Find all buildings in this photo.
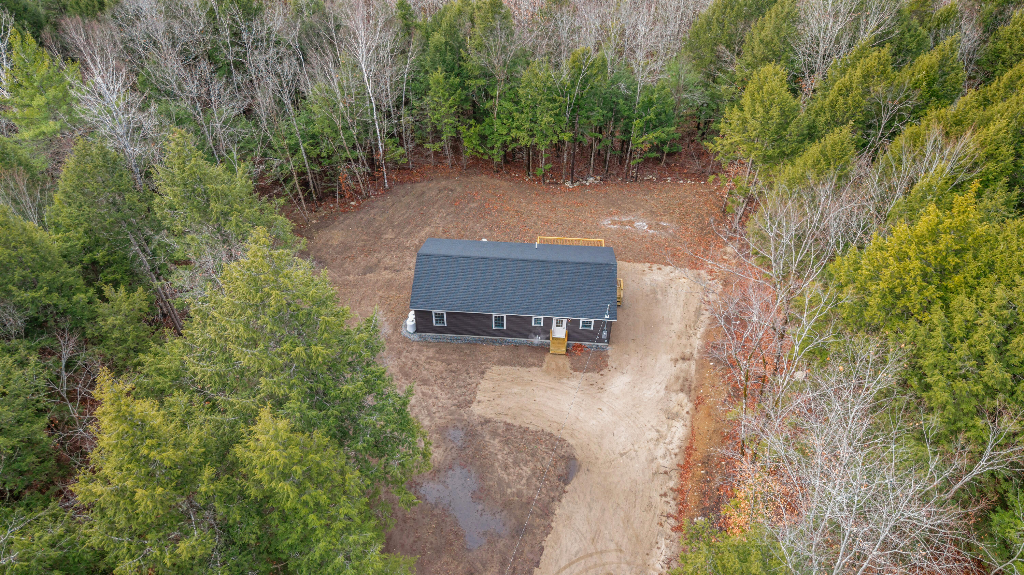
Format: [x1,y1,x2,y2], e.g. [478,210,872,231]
[409,238,618,345]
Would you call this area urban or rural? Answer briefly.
rural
